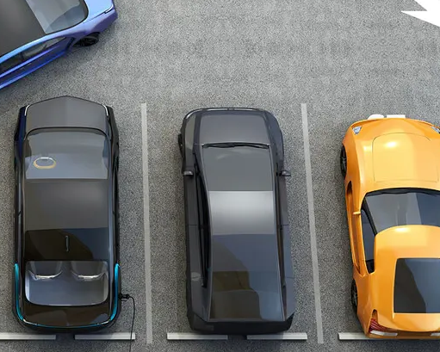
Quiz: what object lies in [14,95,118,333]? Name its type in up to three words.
car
